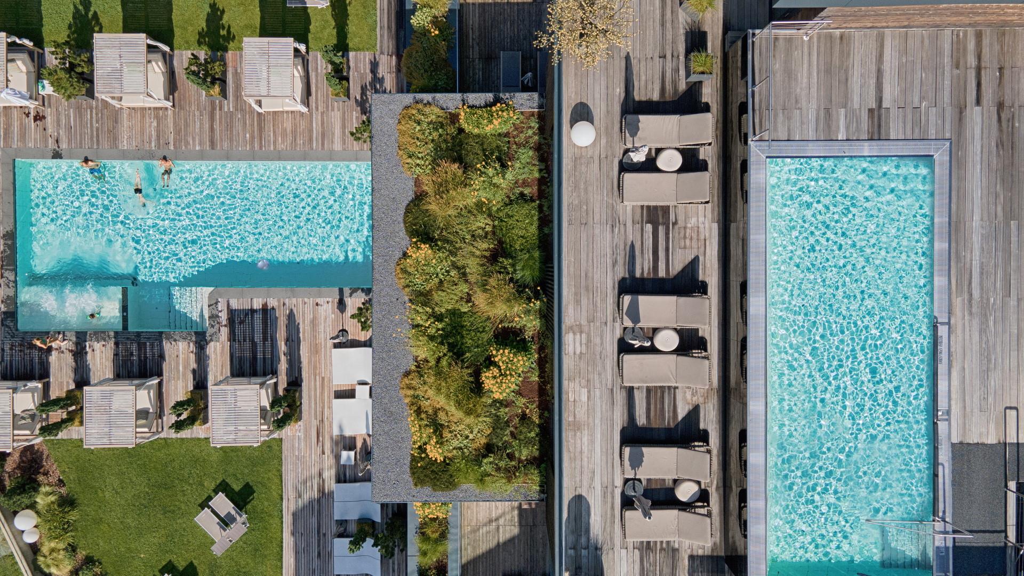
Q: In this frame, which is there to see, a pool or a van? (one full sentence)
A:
Visible in the photo is a pool.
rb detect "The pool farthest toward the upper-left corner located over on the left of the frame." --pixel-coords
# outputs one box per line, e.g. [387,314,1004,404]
[16,159,372,331]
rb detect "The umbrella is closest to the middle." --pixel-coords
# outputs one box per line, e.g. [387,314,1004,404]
[624,327,652,350]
